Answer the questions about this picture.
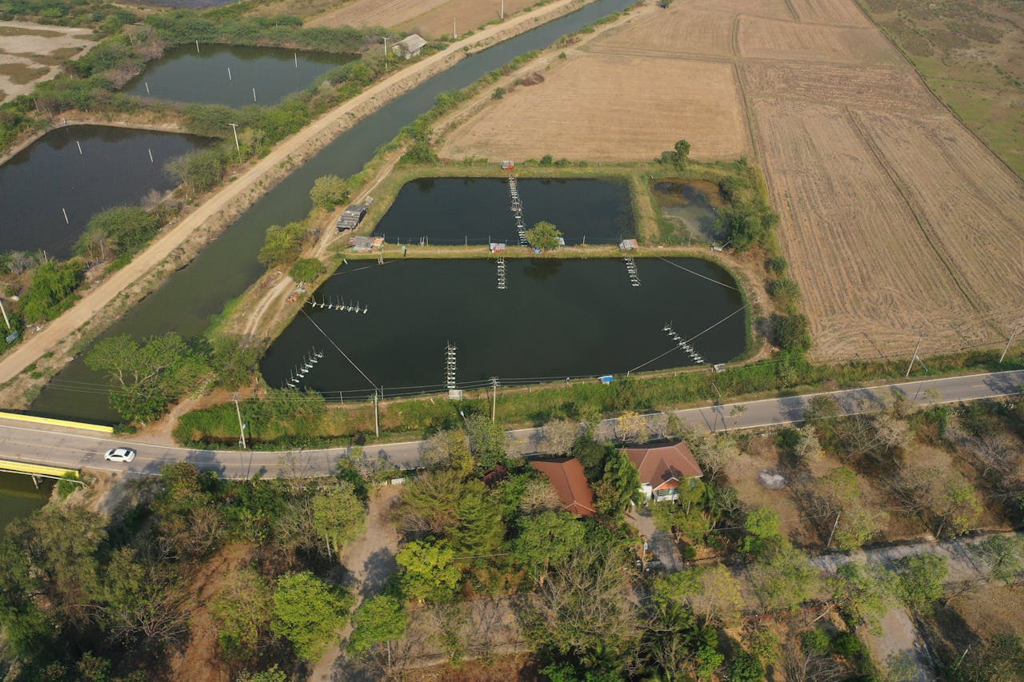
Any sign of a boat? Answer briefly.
No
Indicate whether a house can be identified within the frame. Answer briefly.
Yes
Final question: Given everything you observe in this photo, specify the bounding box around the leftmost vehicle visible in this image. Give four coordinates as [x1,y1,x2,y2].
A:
[103,449,136,465]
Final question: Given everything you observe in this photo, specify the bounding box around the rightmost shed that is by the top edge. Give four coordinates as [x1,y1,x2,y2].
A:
[391,34,427,59]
